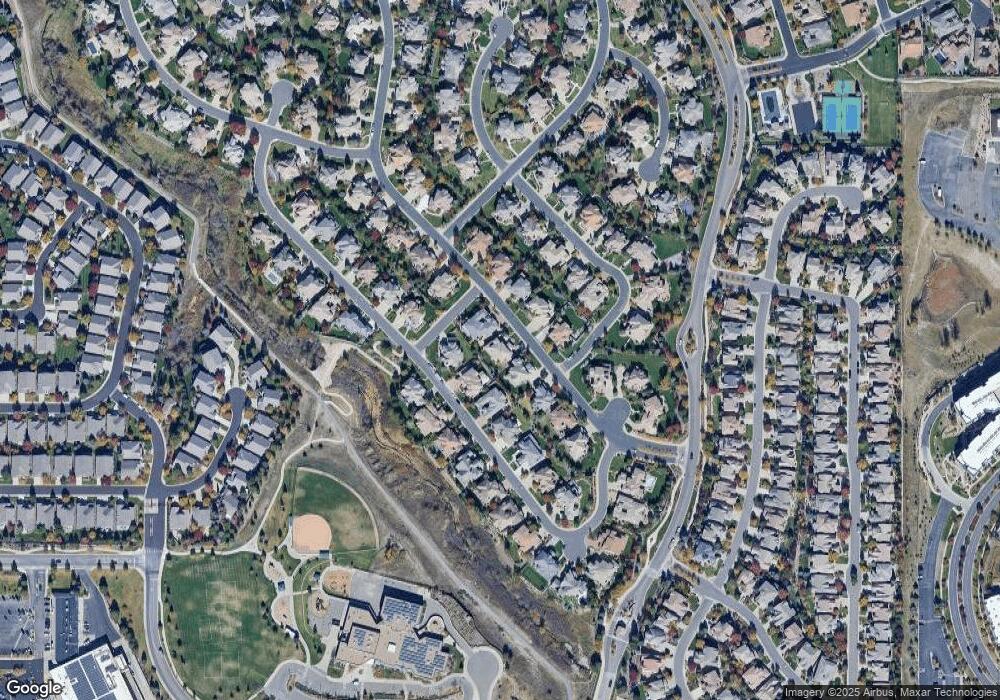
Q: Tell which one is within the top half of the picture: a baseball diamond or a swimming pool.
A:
swimming pool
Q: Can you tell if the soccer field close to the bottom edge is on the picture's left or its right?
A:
left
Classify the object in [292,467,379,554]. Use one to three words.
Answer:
baseball field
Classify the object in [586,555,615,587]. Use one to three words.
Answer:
house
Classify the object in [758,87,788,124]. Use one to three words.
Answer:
swimming pool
